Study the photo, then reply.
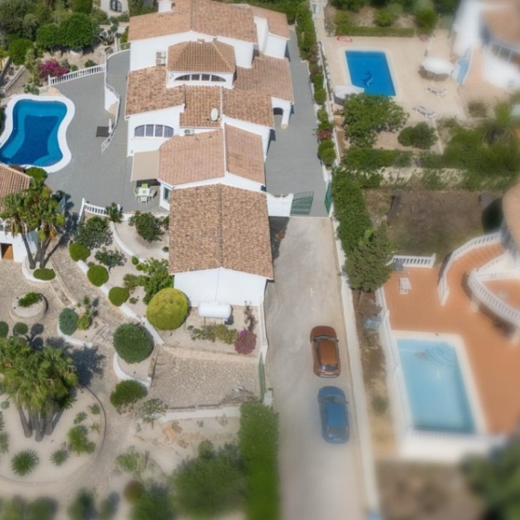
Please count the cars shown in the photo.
2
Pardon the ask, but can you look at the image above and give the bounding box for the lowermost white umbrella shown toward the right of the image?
[331,79,369,106]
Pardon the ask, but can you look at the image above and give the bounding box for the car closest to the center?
[311,330,345,382]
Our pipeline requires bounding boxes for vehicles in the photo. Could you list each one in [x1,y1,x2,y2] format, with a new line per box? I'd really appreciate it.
[311,330,345,382]
[318,390,353,446]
